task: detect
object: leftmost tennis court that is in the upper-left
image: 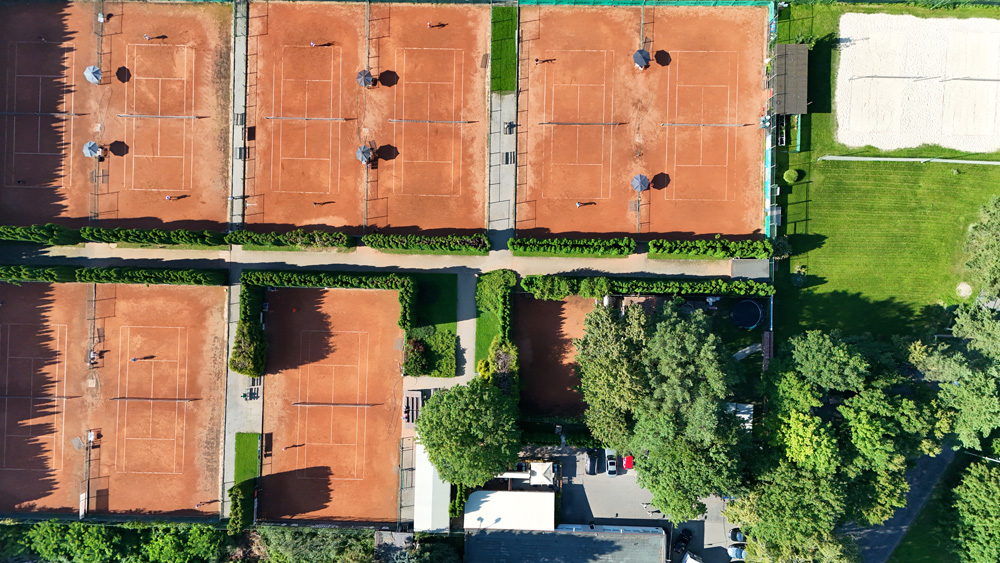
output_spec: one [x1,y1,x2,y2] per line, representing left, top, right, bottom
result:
[0,3,101,228]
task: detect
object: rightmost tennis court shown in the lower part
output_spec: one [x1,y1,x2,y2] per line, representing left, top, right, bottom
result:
[512,292,602,418]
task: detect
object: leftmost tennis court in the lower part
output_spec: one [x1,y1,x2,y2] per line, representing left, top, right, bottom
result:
[0,281,94,512]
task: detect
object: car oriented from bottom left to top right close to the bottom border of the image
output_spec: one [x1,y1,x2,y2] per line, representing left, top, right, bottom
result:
[672,527,695,555]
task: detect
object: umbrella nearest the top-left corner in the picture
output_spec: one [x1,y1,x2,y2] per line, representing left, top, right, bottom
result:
[84,65,102,83]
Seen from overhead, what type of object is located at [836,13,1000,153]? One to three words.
sports court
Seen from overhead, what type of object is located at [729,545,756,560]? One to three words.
car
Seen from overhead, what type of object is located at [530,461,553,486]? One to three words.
gazebo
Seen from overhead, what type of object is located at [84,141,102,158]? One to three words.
umbrella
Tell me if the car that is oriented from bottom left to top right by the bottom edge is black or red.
black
